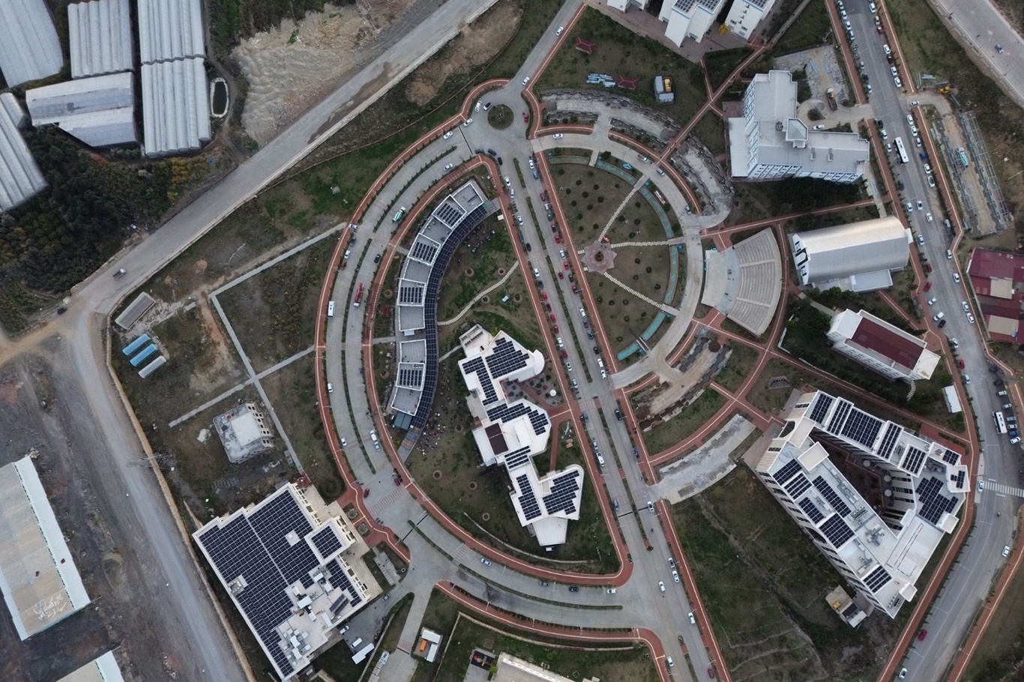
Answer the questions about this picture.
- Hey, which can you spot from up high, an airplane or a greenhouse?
greenhouse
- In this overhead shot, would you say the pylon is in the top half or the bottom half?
bottom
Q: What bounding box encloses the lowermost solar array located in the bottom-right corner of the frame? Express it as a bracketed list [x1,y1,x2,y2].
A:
[864,567,892,592]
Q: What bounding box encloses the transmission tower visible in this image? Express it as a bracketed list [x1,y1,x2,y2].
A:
[129,450,173,472]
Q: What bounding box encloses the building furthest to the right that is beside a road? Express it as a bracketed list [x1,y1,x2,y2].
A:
[962,247,1024,352]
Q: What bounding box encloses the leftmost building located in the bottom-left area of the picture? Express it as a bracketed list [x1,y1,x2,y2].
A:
[0,457,91,638]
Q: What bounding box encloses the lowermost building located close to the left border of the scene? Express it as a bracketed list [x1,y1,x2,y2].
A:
[51,649,133,682]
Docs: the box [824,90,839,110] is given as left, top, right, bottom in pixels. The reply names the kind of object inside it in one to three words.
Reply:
vehicle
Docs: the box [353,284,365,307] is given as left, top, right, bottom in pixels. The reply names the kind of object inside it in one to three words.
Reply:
vehicle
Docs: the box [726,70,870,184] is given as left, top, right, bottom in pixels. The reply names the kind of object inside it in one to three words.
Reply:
building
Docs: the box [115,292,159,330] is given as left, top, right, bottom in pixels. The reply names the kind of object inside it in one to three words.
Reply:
shed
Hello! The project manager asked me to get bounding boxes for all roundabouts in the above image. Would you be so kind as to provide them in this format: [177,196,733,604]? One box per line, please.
[478,95,523,138]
